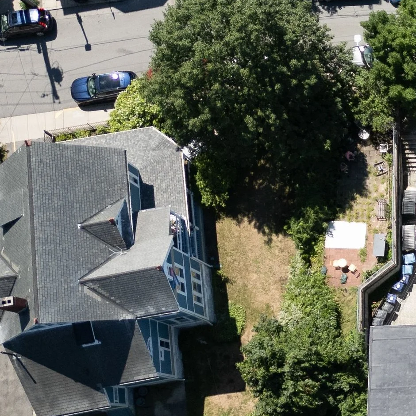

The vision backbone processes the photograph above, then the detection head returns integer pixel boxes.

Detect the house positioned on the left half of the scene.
[0,125,210,416]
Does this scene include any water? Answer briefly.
No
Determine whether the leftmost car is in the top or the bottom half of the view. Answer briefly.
top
